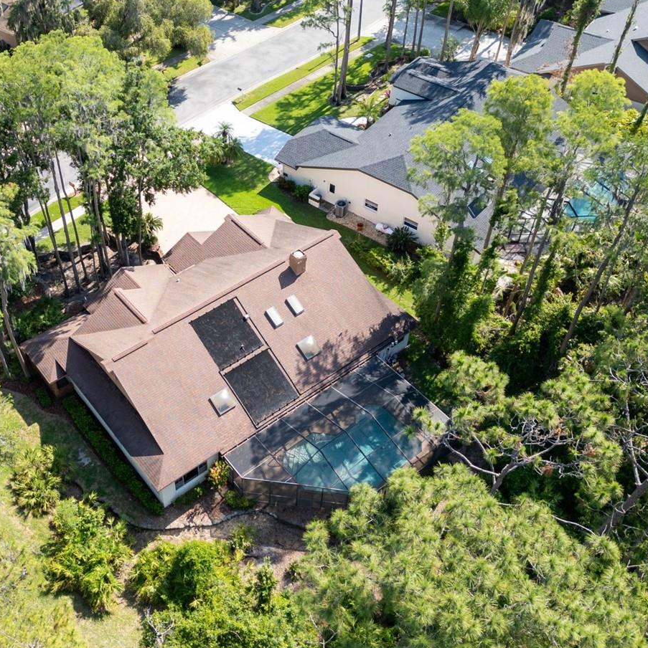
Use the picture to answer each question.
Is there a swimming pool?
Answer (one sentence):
Yes, the photo shows a swimming pool.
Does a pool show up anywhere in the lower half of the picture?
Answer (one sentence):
Yes, a pool is visible in the lower half of the picture.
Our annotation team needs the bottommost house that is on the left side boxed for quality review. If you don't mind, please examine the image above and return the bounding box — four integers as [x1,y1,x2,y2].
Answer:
[21,205,416,507]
